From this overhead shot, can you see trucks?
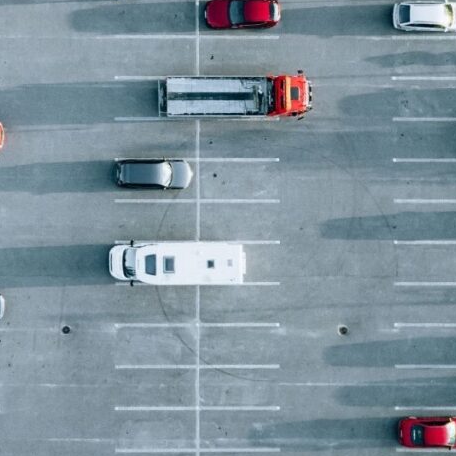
Yes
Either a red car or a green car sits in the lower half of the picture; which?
red car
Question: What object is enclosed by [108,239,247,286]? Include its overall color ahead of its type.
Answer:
white camper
